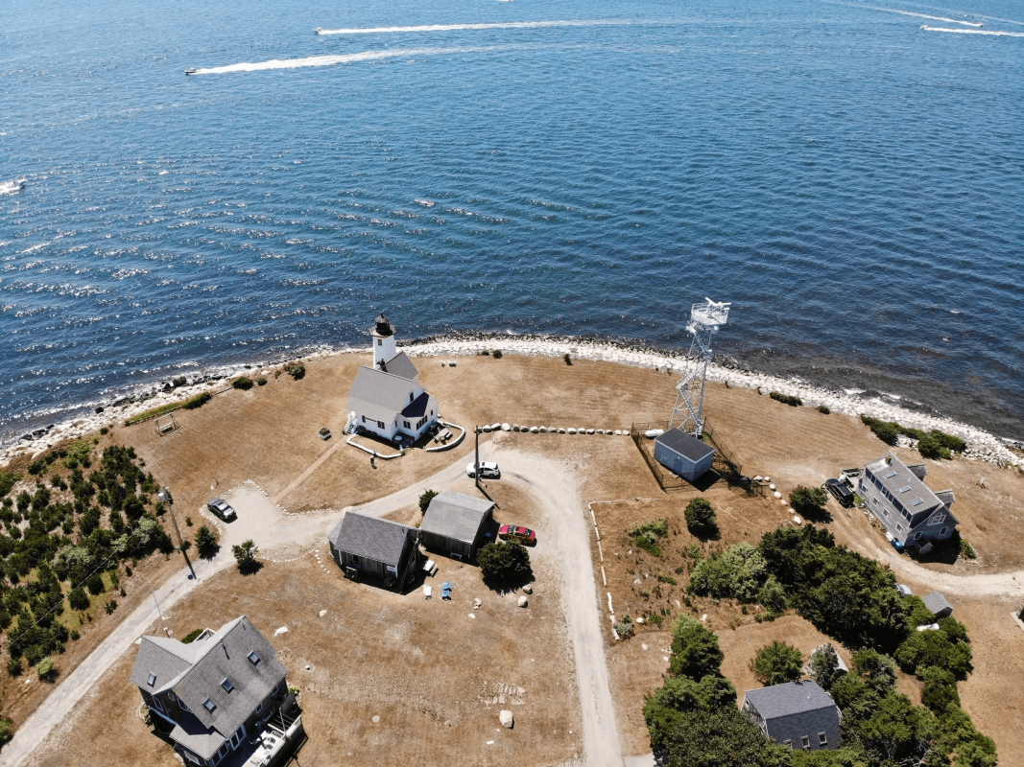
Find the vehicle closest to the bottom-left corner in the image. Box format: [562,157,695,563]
[203,493,237,516]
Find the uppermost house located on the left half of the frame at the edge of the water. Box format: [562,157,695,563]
[338,352,441,439]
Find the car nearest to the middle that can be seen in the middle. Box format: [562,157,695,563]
[466,457,500,473]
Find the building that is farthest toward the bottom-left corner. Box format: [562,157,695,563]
[122,614,297,767]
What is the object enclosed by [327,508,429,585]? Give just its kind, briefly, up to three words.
shed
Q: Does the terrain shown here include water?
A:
Yes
